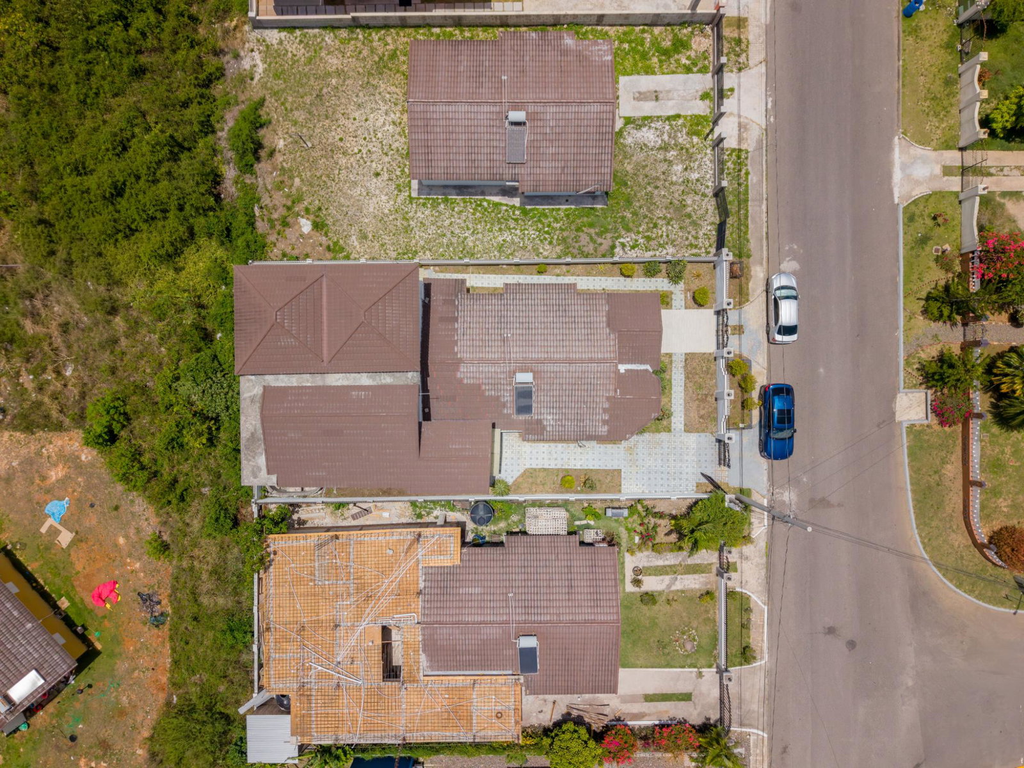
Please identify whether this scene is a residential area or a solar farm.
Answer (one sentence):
This image shows a residential area.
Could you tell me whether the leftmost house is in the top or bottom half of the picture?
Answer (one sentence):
The bottom half of the photo is where the leftmost house is.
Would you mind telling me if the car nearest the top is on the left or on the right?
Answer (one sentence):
The car nearest the top is on the right side of the image.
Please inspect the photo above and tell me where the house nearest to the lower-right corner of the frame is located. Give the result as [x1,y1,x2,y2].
[415,533,623,696]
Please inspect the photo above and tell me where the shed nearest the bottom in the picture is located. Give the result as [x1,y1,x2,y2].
[247,702,304,763]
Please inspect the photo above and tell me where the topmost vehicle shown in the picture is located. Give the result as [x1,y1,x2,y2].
[764,273,802,345]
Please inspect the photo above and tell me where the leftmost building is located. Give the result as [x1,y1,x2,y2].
[0,544,92,738]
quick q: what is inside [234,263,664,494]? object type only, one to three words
house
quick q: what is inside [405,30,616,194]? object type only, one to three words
house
